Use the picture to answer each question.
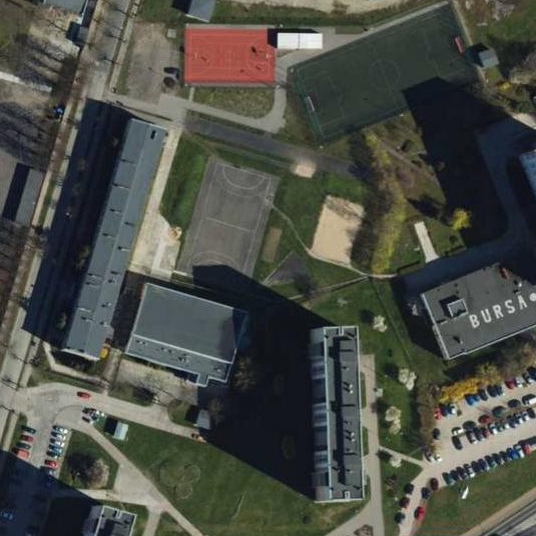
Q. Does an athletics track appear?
Yes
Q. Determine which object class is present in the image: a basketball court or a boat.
basketball court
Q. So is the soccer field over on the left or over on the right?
right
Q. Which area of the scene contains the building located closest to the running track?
left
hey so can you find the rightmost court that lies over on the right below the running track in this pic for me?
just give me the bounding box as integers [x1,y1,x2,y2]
[311,195,363,265]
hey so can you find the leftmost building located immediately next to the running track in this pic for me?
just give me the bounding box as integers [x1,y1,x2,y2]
[62,117,168,360]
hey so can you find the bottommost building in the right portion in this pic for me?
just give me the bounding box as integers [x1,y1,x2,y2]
[309,326,363,500]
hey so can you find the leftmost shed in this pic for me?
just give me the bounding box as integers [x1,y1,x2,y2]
[17,168,45,225]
